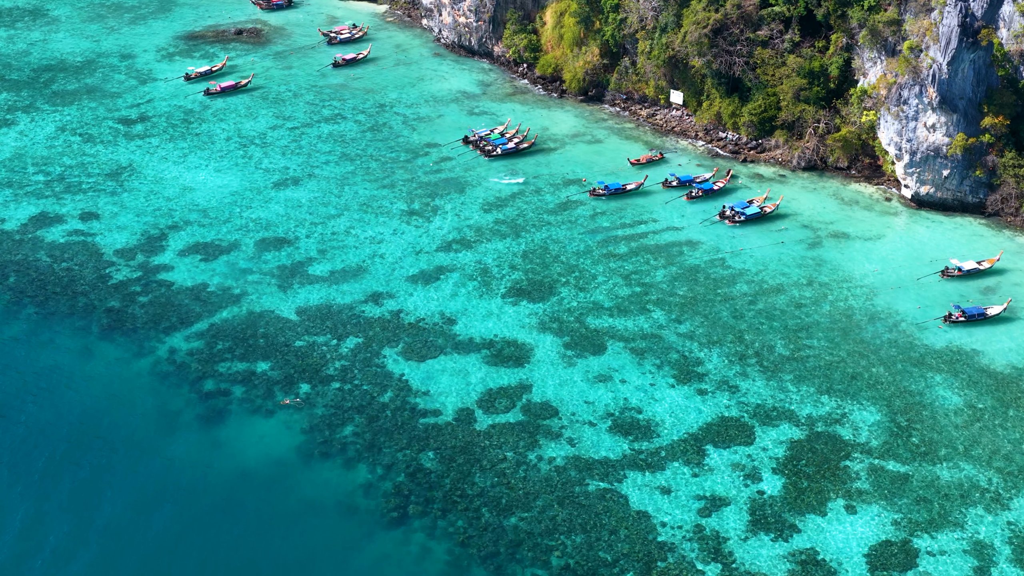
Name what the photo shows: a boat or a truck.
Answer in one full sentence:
This aerial view contains a boat.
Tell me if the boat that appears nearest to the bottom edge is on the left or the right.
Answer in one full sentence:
It is on the right.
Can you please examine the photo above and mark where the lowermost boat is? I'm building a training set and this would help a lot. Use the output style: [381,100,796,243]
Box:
[914,299,1011,327]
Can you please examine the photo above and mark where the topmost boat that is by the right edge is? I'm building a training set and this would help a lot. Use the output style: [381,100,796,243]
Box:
[913,250,1003,283]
